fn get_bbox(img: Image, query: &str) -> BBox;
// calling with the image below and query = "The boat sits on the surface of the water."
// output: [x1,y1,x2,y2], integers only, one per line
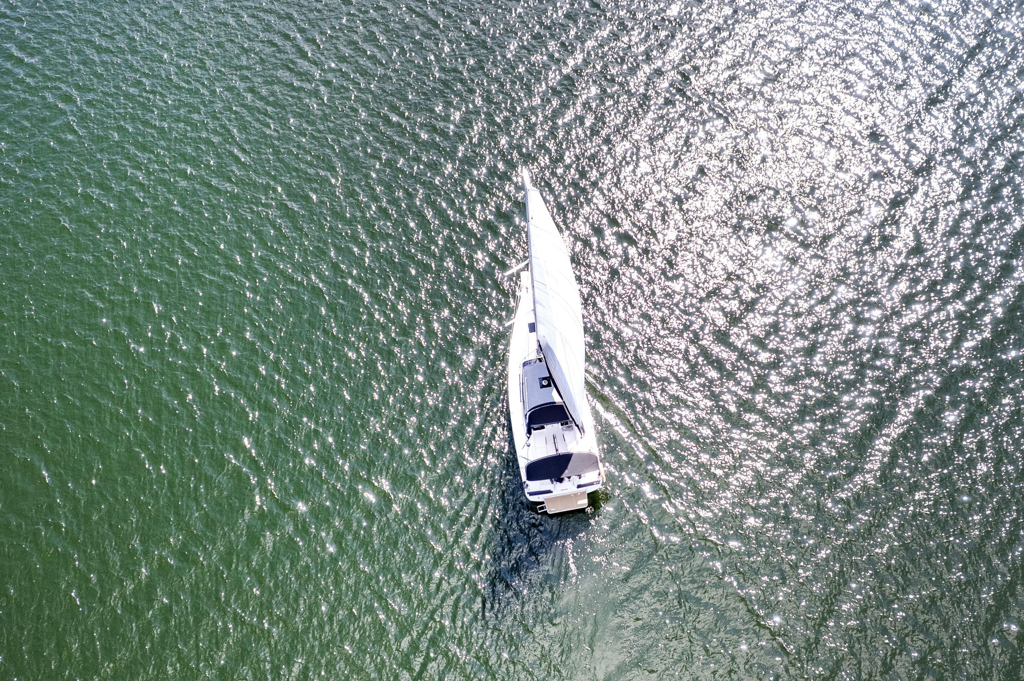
[503,159,602,514]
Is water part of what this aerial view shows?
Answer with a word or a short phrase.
Yes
